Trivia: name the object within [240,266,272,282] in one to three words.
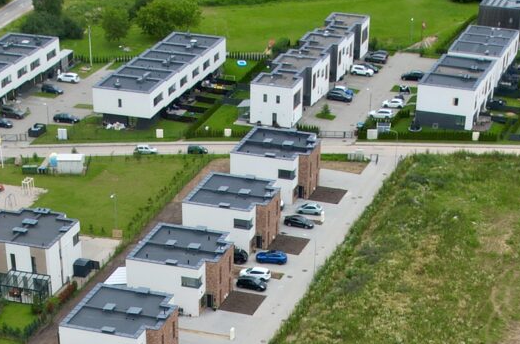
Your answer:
car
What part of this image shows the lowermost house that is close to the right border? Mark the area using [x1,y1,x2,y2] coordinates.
[417,23,508,127]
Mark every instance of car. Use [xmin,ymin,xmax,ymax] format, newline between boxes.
[328,90,352,102]
[182,145,209,156]
[380,99,405,109]
[0,118,13,128]
[256,250,287,265]
[280,199,297,212]
[237,277,267,292]
[334,86,355,95]
[364,54,386,65]
[240,266,272,282]
[233,249,256,265]
[40,84,62,94]
[133,145,157,156]
[282,217,313,230]
[53,114,79,124]
[295,205,325,217]
[350,65,373,76]
[0,107,24,119]
[56,72,80,83]
[401,72,425,82]
[364,64,383,74]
